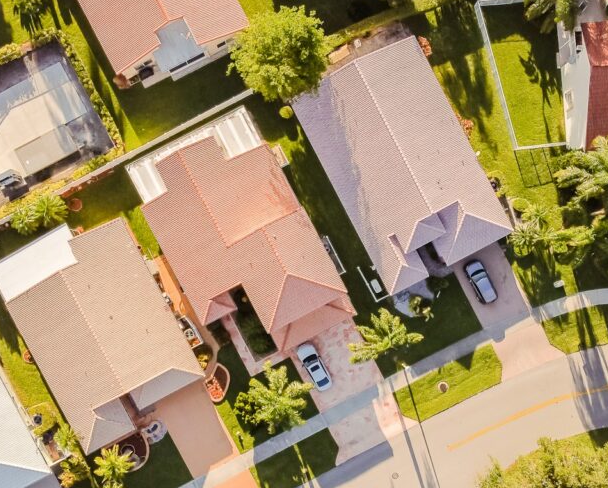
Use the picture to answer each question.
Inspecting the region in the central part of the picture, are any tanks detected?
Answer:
No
